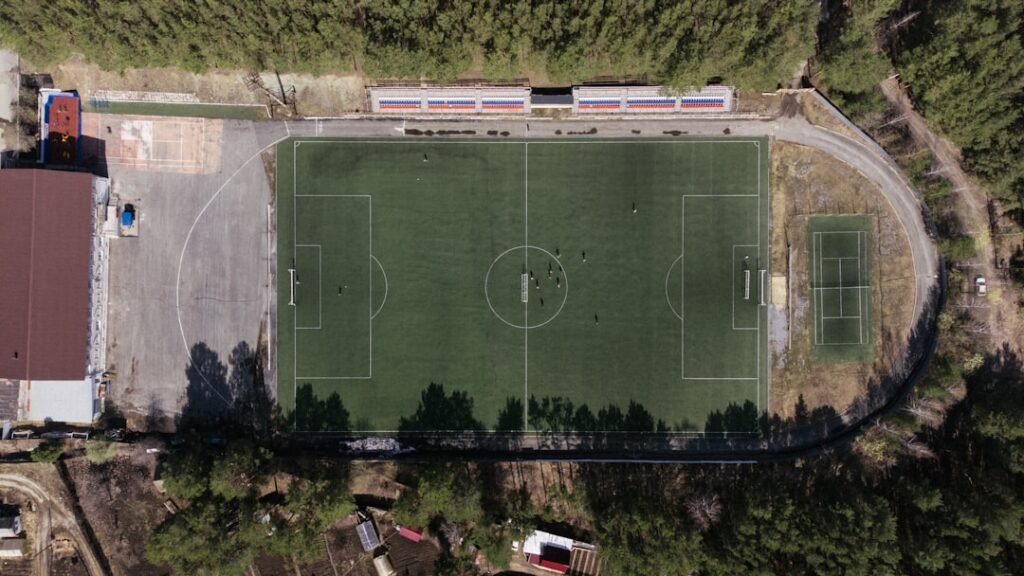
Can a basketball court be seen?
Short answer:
Yes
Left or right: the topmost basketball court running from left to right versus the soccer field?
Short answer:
on the left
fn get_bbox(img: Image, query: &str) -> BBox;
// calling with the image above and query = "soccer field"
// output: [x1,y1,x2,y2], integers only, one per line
[276,137,771,437]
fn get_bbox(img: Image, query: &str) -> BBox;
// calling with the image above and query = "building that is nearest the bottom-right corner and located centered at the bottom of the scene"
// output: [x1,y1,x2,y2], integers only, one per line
[523,525,574,576]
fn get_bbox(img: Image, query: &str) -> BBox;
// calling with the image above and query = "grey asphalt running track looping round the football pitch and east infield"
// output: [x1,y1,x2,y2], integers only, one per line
[177,115,944,457]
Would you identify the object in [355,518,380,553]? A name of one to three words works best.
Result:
shed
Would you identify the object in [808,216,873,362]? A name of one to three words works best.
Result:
tennis court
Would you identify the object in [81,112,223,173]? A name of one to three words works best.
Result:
basketball court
